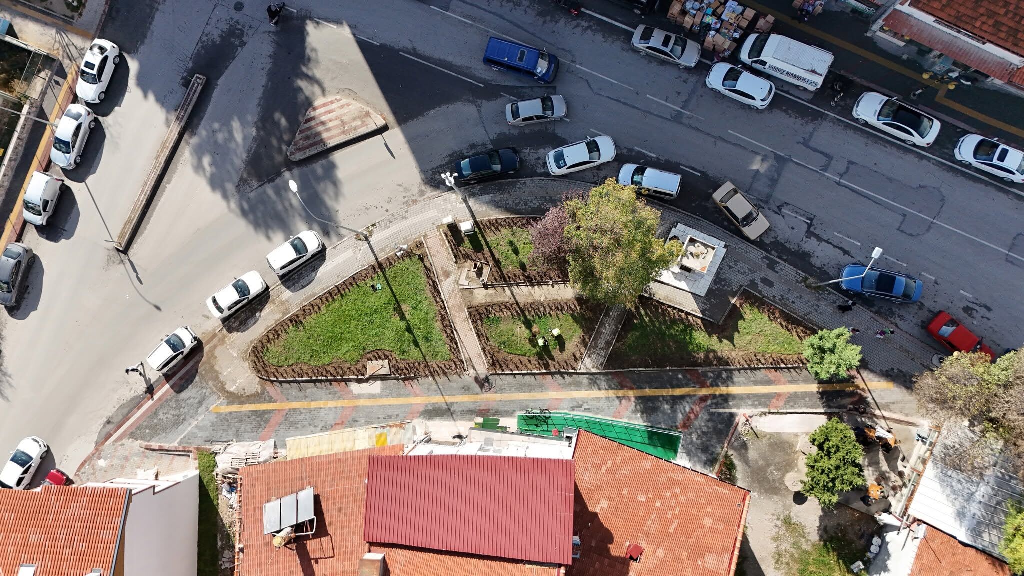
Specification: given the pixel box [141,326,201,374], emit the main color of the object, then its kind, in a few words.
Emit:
white car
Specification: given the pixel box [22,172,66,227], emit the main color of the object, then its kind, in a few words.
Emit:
white car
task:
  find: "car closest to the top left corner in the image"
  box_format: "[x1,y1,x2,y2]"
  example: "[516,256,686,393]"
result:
[77,39,122,104]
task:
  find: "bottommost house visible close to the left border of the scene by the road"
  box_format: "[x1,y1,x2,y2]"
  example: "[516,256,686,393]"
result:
[0,470,198,576]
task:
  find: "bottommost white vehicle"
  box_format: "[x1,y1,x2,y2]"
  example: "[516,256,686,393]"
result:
[0,437,51,488]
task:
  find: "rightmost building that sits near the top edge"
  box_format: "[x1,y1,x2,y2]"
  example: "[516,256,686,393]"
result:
[881,0,1024,85]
